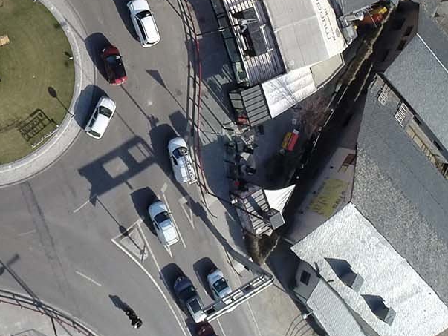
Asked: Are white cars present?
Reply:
Yes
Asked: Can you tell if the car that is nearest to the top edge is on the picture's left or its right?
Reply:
left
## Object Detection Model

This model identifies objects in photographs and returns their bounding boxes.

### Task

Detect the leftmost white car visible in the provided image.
[83,94,117,142]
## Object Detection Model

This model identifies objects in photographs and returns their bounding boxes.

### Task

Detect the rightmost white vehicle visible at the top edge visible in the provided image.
[127,0,159,48]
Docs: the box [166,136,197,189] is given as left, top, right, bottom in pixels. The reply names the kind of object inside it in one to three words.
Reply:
car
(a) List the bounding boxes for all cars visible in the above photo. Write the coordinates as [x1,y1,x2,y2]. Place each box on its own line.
[186,315,213,336]
[83,94,117,142]
[202,263,234,306]
[166,136,197,189]
[127,0,159,48]
[170,270,210,327]
[147,198,180,250]
[99,43,129,88]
